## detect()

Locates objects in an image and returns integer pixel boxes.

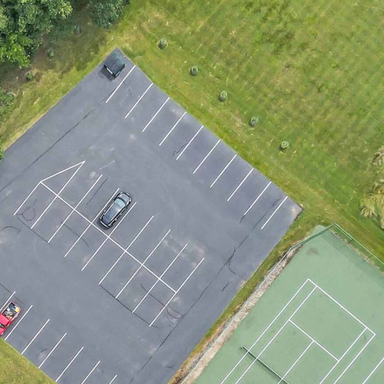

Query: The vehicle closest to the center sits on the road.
[102,190,134,229]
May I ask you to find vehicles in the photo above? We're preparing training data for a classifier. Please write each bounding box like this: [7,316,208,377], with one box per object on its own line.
[102,48,129,80]
[0,300,22,338]
[102,190,134,229]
